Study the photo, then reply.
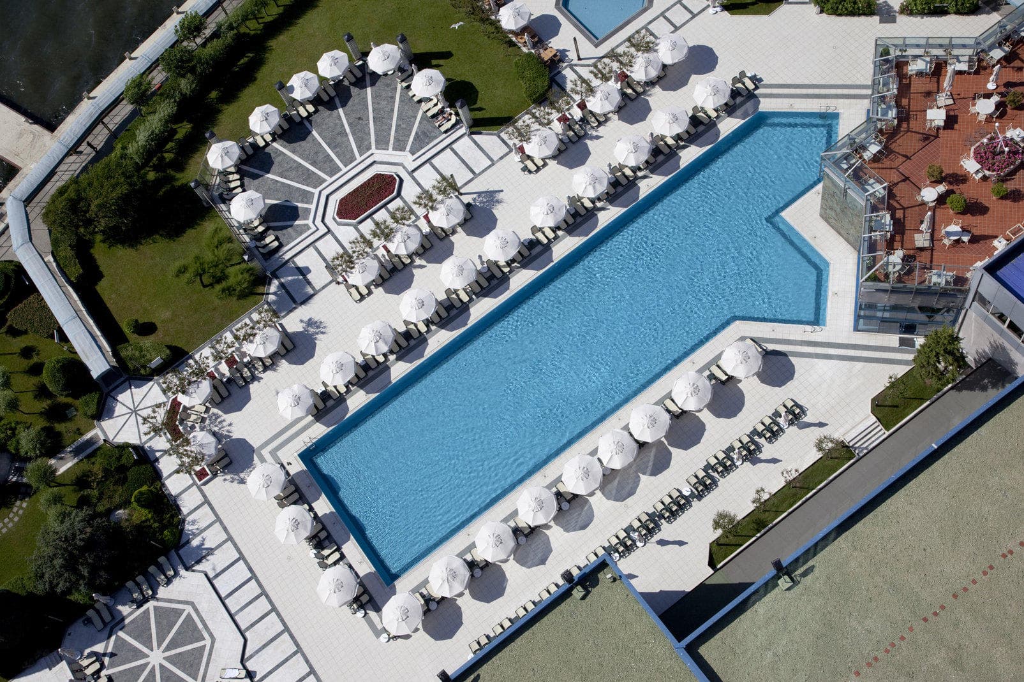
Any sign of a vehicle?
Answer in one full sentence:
No, the frame has no vehicle in it.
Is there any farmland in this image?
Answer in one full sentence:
No, the scene doesn't show any farmland.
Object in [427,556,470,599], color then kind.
white umbrella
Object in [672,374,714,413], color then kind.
white umbrella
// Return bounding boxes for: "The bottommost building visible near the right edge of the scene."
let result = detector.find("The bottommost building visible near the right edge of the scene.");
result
[679,368,1024,682]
